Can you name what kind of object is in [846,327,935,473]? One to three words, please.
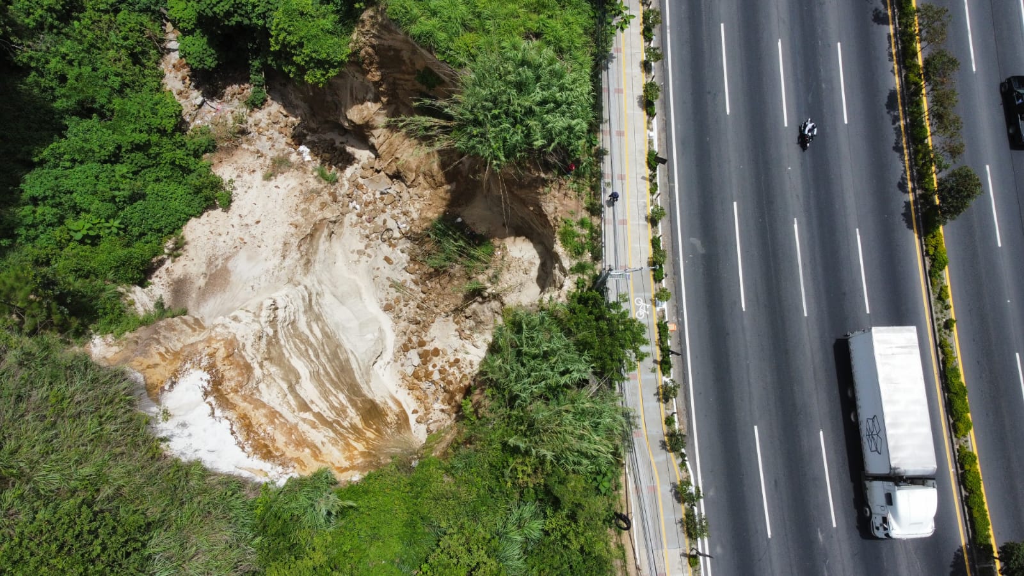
trailer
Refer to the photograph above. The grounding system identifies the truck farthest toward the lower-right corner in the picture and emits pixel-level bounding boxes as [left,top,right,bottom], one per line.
[859,458,935,537]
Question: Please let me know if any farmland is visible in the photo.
No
